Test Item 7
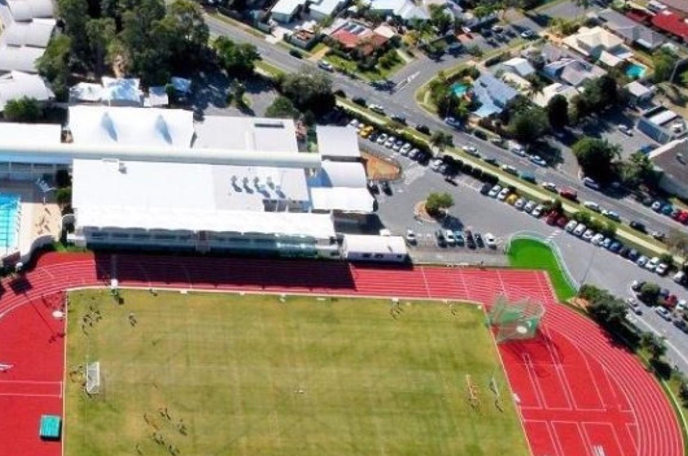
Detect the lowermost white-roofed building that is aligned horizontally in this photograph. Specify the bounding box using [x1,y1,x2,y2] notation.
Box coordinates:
[341,236,407,267]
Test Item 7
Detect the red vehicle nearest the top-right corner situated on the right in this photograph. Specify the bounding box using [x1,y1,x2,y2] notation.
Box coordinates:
[559,187,578,200]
